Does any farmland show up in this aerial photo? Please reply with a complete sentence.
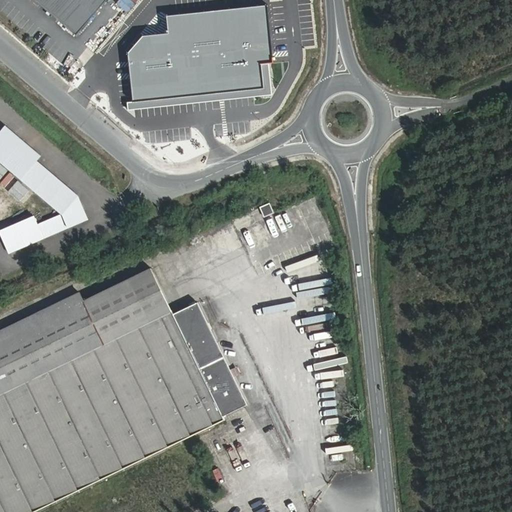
No, no farmland is visible.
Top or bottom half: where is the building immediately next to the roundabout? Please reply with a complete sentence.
The building immediately next to the roundabout sits in the top half of the picture.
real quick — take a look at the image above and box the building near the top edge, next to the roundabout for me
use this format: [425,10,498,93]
[127,6,272,110]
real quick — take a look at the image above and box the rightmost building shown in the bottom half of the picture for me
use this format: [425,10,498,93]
[174,303,247,416]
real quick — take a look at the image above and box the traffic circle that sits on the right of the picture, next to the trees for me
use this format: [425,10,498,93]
[306,76,388,158]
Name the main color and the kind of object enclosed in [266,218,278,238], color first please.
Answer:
white vehicle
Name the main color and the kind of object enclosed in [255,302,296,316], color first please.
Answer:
white vehicle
